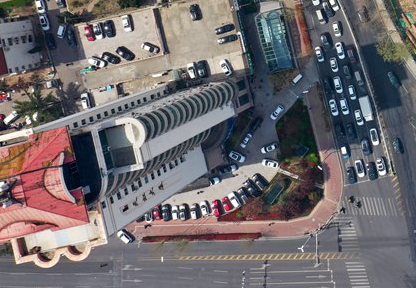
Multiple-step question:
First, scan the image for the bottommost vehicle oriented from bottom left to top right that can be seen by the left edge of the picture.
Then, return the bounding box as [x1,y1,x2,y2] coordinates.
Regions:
[1,109,19,125]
